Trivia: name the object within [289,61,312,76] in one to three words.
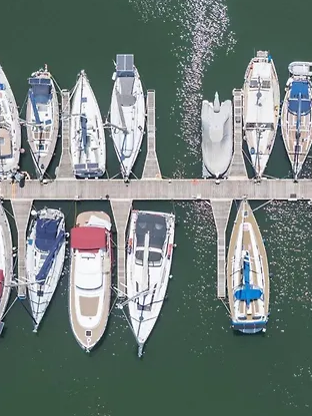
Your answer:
boat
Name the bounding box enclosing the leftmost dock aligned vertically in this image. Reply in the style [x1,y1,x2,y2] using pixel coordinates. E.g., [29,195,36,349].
[11,198,34,300]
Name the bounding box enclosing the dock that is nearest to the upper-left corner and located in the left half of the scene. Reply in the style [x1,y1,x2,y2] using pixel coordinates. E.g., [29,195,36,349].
[55,89,75,178]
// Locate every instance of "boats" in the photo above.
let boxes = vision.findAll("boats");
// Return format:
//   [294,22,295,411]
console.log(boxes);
[100,54,148,184]
[0,66,23,178]
[289,61,312,76]
[2,198,70,334]
[114,198,177,357]
[0,198,20,331]
[278,73,312,184]
[222,196,273,334]
[69,199,120,355]
[55,66,109,180]
[5,64,62,182]
[235,48,285,182]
